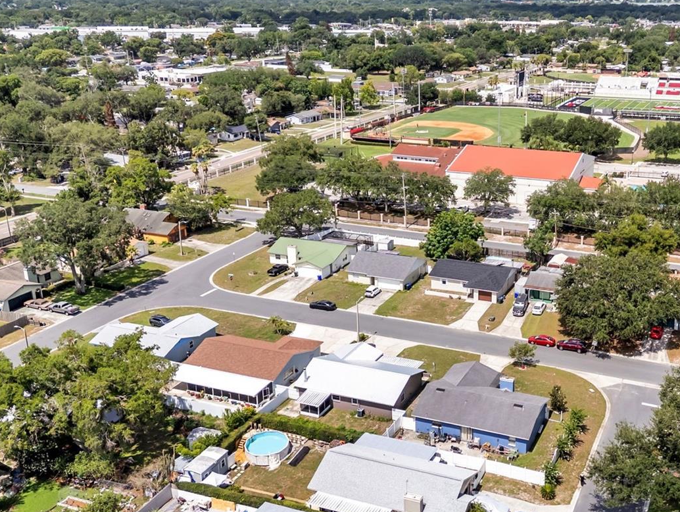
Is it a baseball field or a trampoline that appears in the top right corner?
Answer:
baseball field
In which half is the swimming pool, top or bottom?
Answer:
bottom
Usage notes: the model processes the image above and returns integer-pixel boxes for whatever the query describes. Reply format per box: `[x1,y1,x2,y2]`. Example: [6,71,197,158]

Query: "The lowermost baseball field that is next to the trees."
[364,107,633,159]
